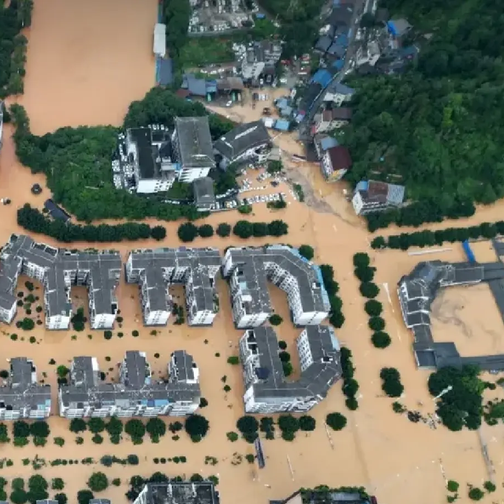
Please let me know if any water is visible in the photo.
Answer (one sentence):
Yes, some water is visible.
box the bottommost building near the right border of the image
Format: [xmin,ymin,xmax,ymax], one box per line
[392,239,504,376]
